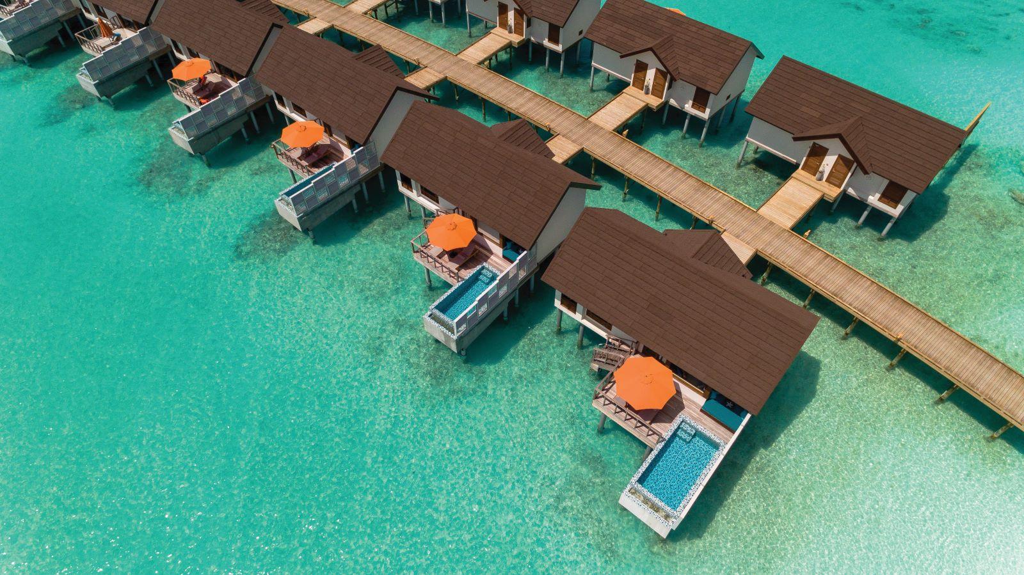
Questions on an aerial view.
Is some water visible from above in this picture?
Yes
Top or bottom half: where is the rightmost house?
top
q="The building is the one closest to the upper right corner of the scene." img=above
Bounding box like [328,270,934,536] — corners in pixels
[740,54,987,241]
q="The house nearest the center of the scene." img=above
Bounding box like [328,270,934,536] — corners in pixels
[379,99,603,364]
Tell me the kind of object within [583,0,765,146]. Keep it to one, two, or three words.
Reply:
house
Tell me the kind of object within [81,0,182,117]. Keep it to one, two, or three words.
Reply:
house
